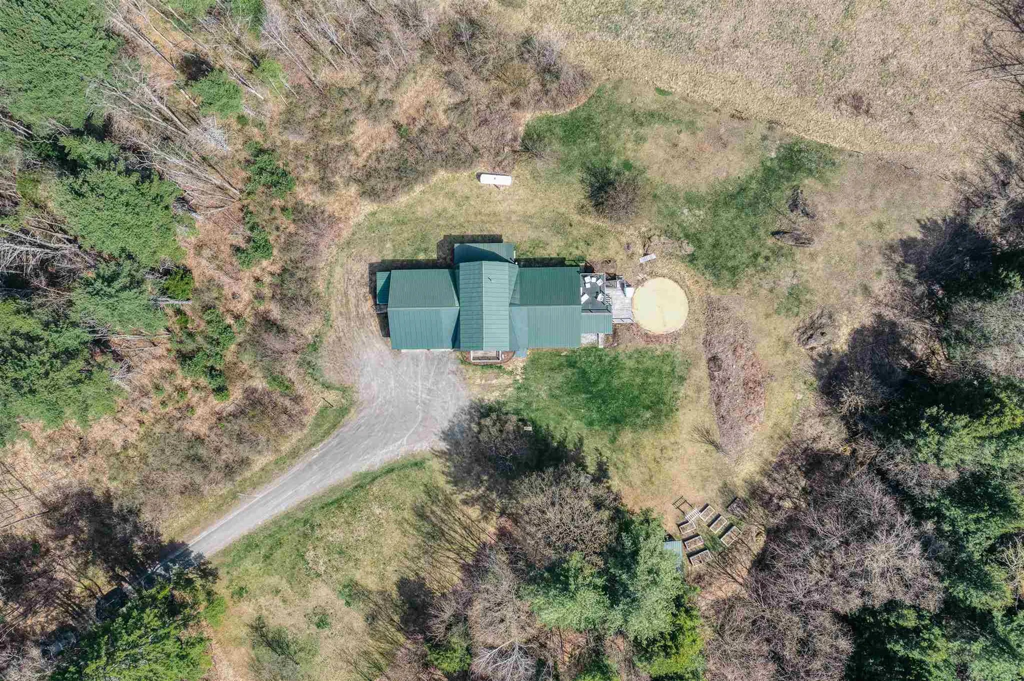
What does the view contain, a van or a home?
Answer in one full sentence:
Of the two, only a home appears.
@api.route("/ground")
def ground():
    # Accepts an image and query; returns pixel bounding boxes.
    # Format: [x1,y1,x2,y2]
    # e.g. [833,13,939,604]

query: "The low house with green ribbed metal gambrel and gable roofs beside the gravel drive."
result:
[376,243,612,357]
